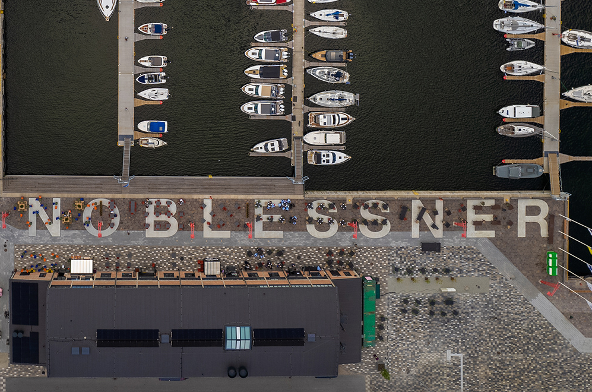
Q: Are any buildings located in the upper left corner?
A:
No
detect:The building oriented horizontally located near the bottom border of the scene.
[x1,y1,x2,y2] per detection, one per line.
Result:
[10,270,362,380]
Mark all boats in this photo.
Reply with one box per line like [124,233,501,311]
[494,121,559,139]
[312,8,348,22]
[255,28,293,42]
[137,119,168,133]
[249,137,289,153]
[138,21,171,36]
[497,59,558,77]
[137,87,169,100]
[245,65,290,80]
[307,90,357,107]
[313,48,356,62]
[560,29,592,50]
[306,65,352,82]
[496,0,555,13]
[561,87,592,102]
[136,71,170,85]
[491,16,554,35]
[304,130,346,146]
[307,148,354,165]
[495,104,542,119]
[492,163,544,179]
[138,55,172,68]
[502,38,534,50]
[241,81,289,98]
[245,46,292,62]
[307,110,357,127]
[308,24,347,39]
[139,136,167,148]
[241,99,288,116]
[247,0,290,7]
